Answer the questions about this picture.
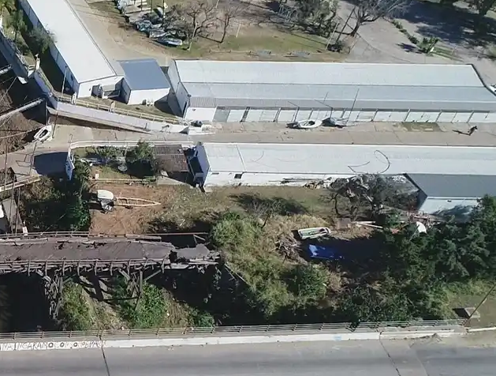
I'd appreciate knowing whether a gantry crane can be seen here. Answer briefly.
No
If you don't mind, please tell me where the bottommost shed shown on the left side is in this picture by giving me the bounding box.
[153,143,188,180]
